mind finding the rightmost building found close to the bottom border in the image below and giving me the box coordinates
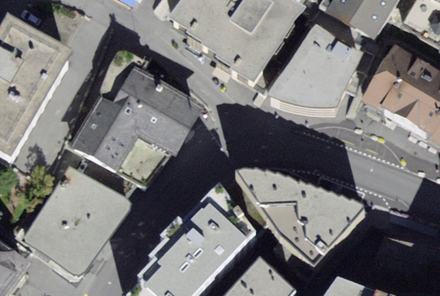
[375,236,440,296]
